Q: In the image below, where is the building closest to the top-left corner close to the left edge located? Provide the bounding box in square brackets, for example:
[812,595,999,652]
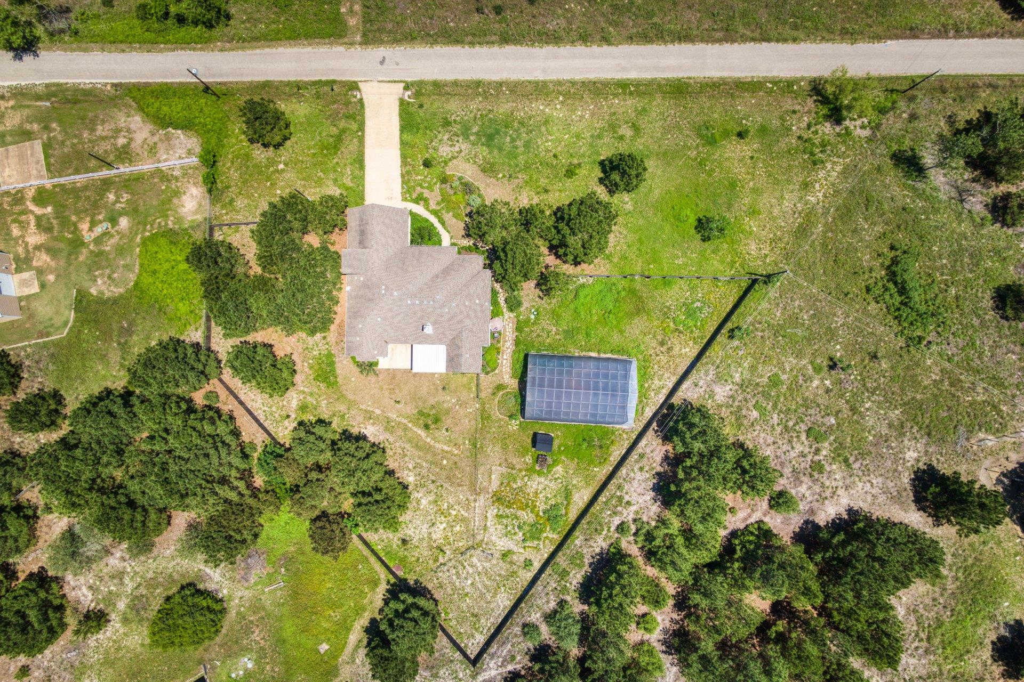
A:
[0,252,29,322]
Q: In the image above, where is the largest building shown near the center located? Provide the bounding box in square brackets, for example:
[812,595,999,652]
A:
[341,202,491,373]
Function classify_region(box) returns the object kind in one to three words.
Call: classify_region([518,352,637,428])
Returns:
house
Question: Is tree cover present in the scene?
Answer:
Yes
